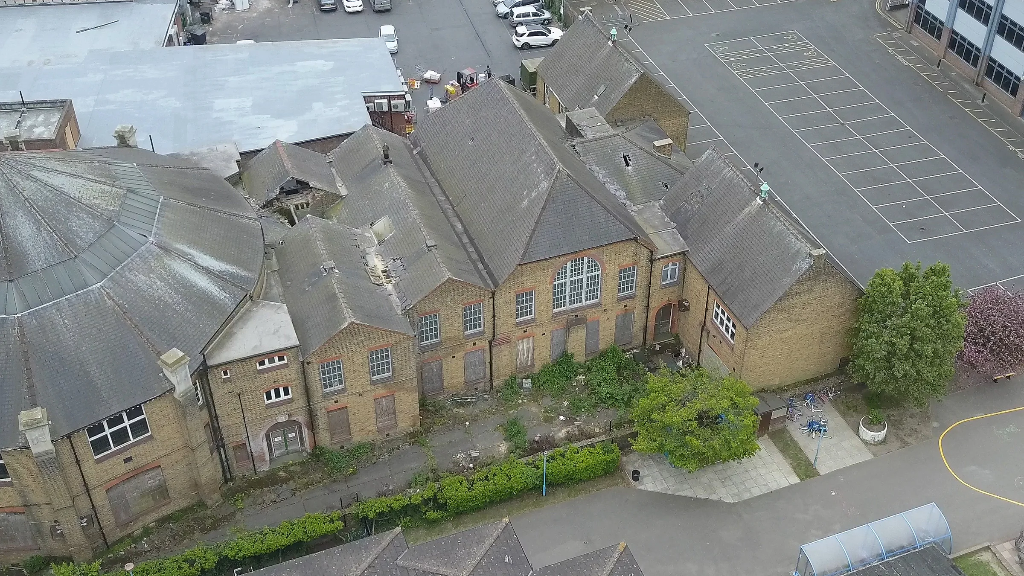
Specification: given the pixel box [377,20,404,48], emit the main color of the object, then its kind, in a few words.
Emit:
white car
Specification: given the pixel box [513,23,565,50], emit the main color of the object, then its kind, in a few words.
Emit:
white car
